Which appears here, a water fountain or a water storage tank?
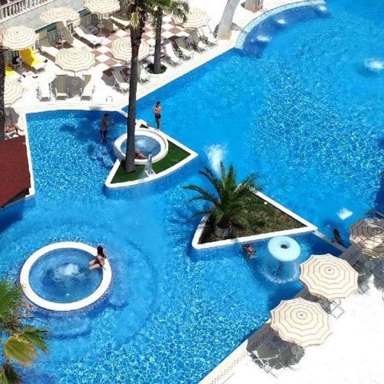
water fountain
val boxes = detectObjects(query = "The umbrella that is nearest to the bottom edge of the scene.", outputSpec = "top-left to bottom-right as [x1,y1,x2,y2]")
[273,298,337,354]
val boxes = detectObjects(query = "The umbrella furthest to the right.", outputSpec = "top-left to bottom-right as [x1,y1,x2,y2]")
[341,217,384,278]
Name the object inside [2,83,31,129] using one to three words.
umbrella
